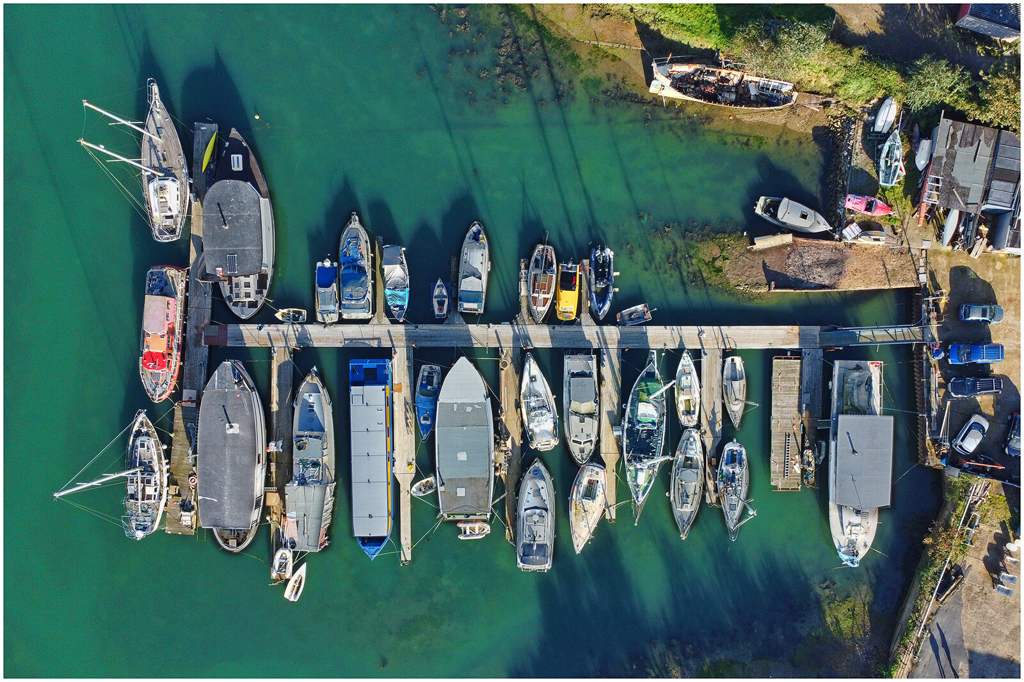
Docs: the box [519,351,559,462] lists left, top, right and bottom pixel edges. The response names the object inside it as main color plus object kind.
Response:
white boat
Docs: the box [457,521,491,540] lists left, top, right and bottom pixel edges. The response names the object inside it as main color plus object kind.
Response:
white boat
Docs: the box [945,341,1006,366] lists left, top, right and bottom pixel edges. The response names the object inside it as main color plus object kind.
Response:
blue truck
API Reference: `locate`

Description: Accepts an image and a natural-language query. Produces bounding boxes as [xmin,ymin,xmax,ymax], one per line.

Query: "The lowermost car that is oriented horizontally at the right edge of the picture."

[945,374,1003,399]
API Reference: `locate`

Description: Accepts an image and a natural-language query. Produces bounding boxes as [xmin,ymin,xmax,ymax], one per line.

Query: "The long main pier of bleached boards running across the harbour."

[227,325,801,348]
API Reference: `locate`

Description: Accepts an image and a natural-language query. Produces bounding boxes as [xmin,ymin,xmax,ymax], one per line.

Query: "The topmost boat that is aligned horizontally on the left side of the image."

[274,309,307,322]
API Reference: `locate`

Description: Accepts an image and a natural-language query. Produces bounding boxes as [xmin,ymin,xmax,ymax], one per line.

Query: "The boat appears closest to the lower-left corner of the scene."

[51,407,174,543]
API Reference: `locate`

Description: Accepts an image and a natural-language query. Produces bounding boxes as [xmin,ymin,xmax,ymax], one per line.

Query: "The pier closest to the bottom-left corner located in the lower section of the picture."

[166,407,200,533]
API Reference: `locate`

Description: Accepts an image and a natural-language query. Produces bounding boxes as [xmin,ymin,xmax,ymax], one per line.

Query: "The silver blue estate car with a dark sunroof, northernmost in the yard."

[955,301,1004,325]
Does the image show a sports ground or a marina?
marina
